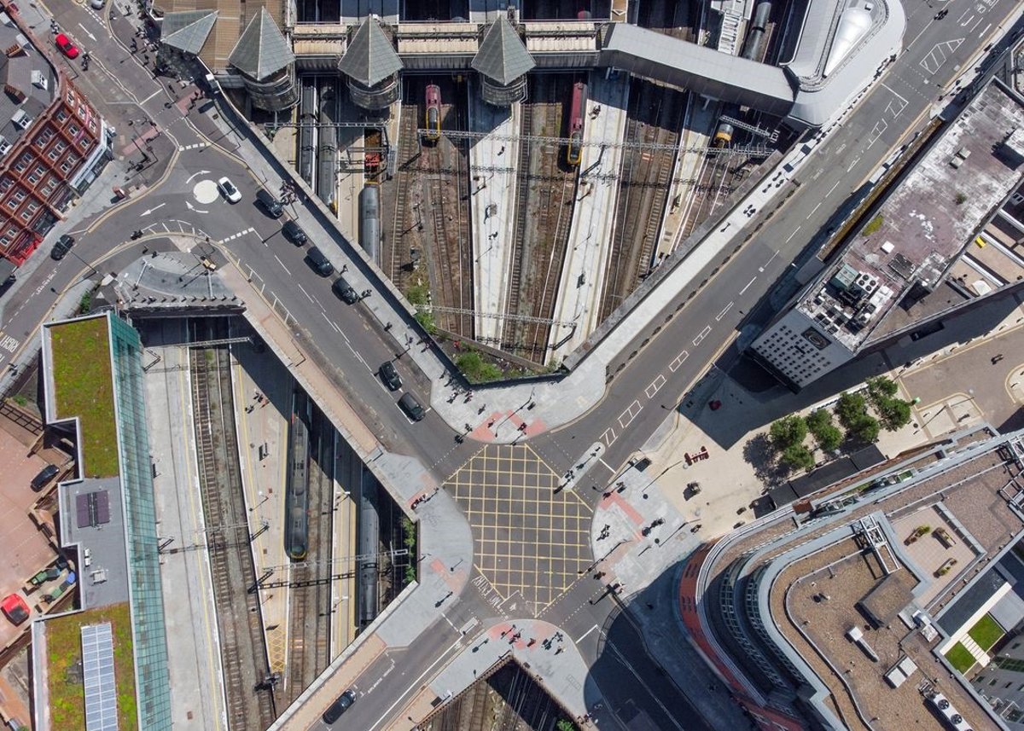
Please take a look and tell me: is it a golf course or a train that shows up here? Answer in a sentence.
The one in the frame is a train.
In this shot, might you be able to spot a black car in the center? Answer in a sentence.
Yes, you'll find a black car in the center.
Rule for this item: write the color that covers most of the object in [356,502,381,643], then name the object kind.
gray train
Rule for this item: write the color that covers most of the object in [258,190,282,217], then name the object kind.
black car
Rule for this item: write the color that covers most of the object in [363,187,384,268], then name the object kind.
gray train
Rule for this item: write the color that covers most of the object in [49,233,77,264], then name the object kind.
black car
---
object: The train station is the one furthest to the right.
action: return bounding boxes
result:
[269,0,733,664]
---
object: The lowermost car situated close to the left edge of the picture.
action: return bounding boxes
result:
[4,594,29,625]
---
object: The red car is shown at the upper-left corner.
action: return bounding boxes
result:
[56,36,78,58]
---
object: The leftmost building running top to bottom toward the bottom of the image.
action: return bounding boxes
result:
[30,311,175,731]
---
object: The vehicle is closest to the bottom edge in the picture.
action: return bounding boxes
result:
[320,689,357,726]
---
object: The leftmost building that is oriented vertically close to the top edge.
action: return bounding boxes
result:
[0,0,114,275]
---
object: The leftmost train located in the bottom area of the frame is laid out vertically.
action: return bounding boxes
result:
[290,379,313,560]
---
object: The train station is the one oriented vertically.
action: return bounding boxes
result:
[128,311,360,731]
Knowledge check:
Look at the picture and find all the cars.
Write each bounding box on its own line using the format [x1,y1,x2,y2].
[56,36,78,58]
[306,247,333,275]
[28,462,64,494]
[399,392,426,424]
[49,233,77,264]
[378,361,402,394]
[93,0,106,6]
[218,177,241,203]
[332,277,359,305]
[280,219,306,247]
[4,594,29,625]
[258,190,282,217]
[320,689,357,726]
